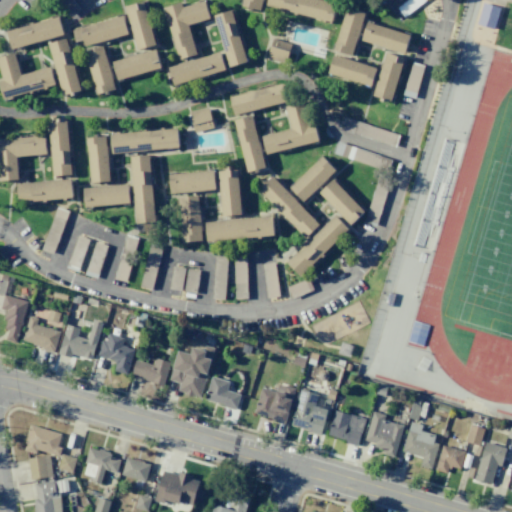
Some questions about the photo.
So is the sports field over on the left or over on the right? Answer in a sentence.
The sports field appears in the right half of the scene.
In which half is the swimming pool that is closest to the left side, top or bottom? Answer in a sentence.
The swimming pool that is closest to the left side sits in the top half of the picture.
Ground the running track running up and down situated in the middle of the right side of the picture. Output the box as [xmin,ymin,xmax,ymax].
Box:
[410,51,512,405]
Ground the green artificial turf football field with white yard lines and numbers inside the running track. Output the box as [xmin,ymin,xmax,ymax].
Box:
[442,90,512,384]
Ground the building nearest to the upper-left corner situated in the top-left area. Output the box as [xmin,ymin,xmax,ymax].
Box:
[6,16,63,50]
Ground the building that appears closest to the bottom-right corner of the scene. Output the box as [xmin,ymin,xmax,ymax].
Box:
[476,444,508,485]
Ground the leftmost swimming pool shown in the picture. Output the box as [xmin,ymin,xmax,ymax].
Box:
[198,128,234,154]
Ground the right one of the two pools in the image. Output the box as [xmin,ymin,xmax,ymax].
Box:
[285,24,330,58]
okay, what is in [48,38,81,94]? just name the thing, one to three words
building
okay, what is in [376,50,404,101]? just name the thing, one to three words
building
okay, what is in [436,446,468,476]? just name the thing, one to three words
house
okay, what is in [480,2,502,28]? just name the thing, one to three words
shed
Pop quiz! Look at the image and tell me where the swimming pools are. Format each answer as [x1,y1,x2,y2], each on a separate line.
[198,128,234,154]
[285,24,330,58]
